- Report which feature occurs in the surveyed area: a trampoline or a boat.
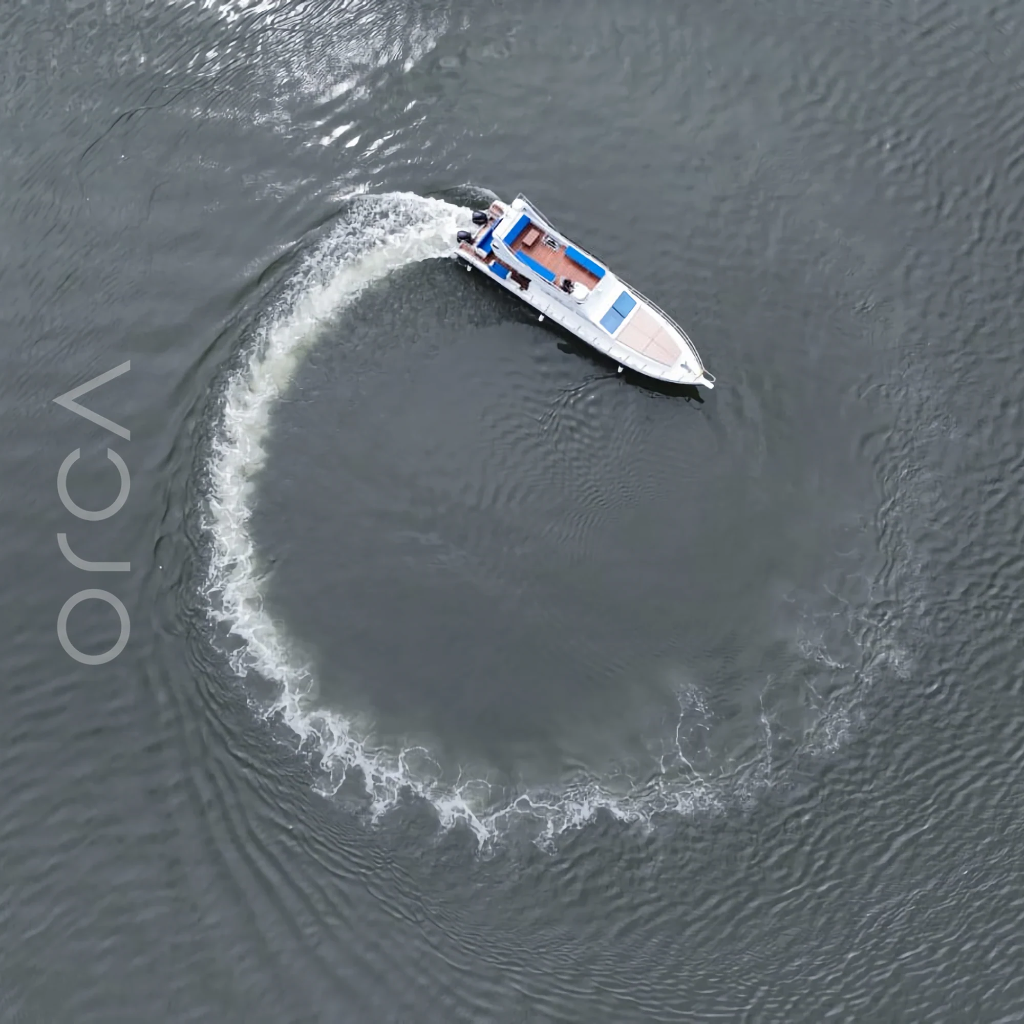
boat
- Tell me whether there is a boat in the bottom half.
No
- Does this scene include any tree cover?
No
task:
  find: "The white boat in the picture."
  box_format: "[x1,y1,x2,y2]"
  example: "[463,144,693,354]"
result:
[455,191,720,389]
